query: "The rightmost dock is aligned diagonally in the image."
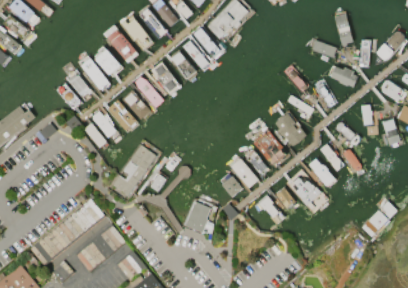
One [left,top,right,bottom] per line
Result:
[236,50,408,210]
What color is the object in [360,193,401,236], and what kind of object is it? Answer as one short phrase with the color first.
white boat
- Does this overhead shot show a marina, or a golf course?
marina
